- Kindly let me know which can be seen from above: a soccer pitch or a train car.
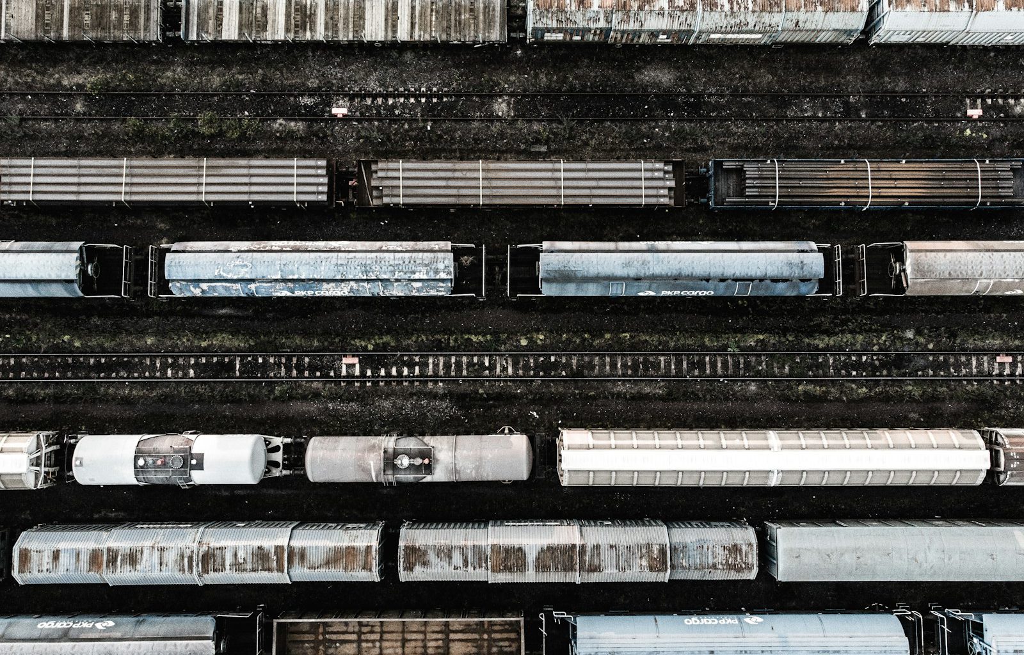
train car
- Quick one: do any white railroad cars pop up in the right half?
Yes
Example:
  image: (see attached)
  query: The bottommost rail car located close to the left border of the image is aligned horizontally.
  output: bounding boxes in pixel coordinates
[0,603,279,655]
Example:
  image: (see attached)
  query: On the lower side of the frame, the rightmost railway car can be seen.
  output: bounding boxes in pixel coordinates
[978,425,1024,488]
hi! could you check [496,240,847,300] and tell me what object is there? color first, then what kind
white rail car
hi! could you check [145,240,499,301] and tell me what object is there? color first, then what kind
white rail car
